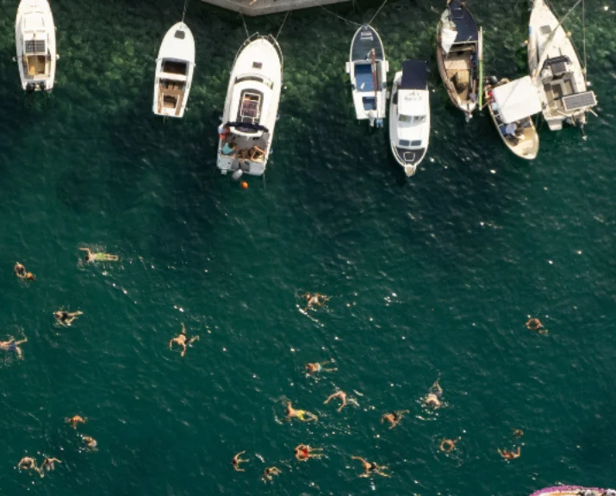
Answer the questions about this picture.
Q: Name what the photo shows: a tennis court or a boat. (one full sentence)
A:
Of the two, only a boat appears.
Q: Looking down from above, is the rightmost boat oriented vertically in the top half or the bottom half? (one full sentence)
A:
The rightmost boat oriented vertically sits in the top half of the picture.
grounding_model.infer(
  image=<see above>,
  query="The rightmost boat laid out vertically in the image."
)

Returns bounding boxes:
[527,0,598,139]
